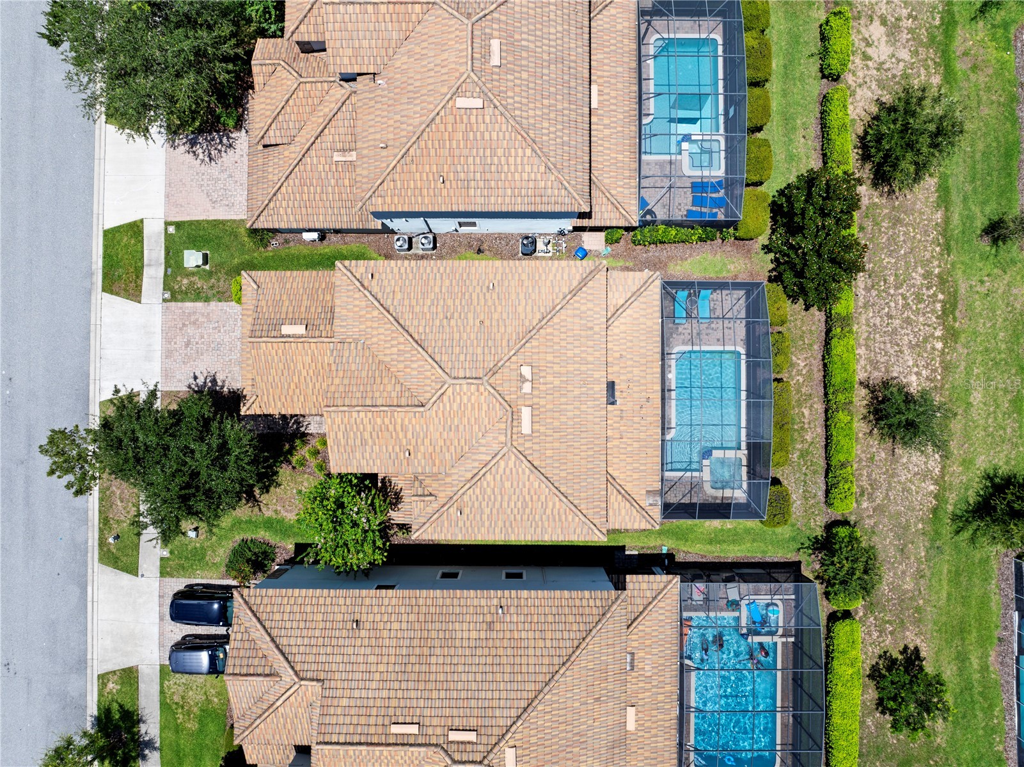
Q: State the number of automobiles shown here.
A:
two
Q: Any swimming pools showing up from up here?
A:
Yes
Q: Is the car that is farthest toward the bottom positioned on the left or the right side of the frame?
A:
left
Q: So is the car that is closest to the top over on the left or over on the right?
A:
left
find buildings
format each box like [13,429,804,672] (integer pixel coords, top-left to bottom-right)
[246,0,641,234]
[239,259,663,542]
[218,564,682,767]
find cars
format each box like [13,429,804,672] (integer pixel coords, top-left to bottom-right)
[167,585,260,629]
[167,632,227,674]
